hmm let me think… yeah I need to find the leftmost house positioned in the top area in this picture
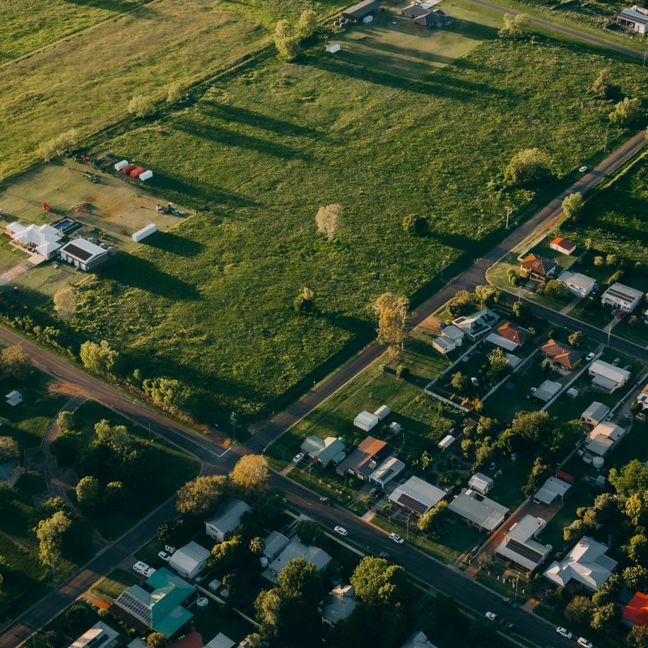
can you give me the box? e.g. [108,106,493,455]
[4,221,62,260]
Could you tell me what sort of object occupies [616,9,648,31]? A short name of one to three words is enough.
shed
